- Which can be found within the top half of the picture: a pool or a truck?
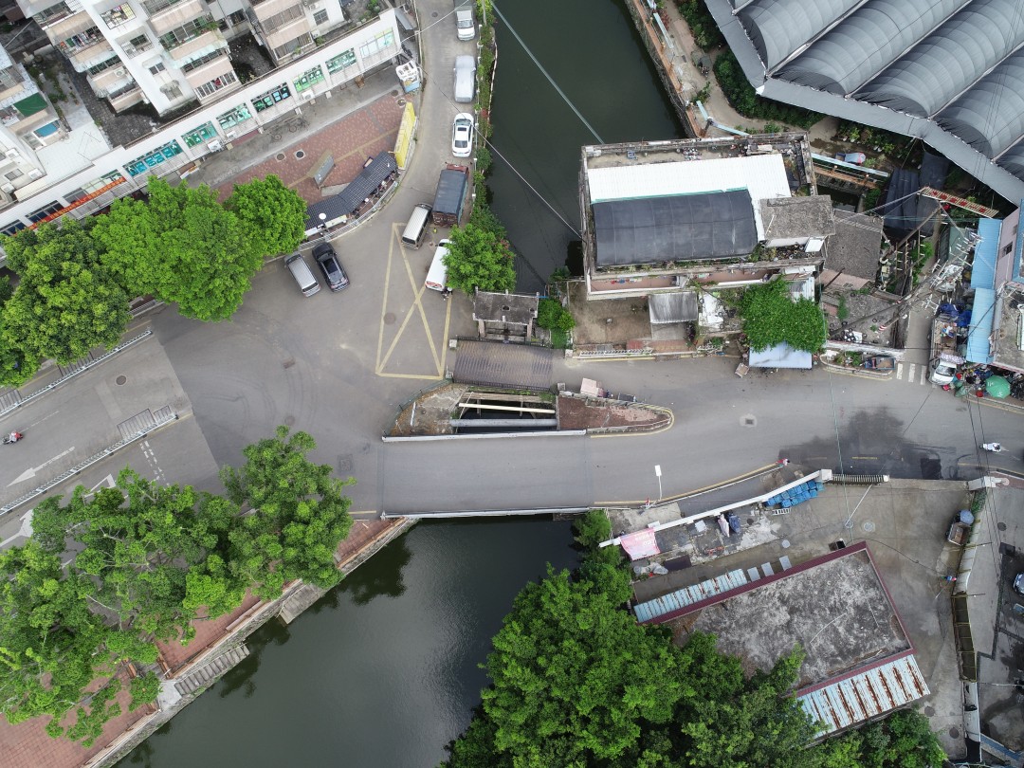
truck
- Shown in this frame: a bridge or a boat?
bridge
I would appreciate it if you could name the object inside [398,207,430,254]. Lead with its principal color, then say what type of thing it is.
white car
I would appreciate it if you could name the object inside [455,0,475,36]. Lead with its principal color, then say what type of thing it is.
white vehicle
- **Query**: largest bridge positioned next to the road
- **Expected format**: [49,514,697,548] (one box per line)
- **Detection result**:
[379,430,594,521]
